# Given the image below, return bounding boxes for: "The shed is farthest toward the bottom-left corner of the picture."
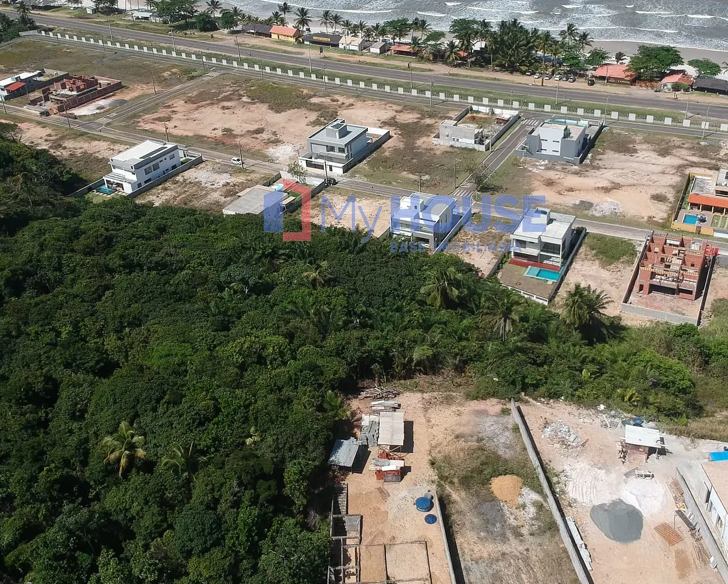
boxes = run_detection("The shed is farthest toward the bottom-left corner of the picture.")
[330,439,359,477]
